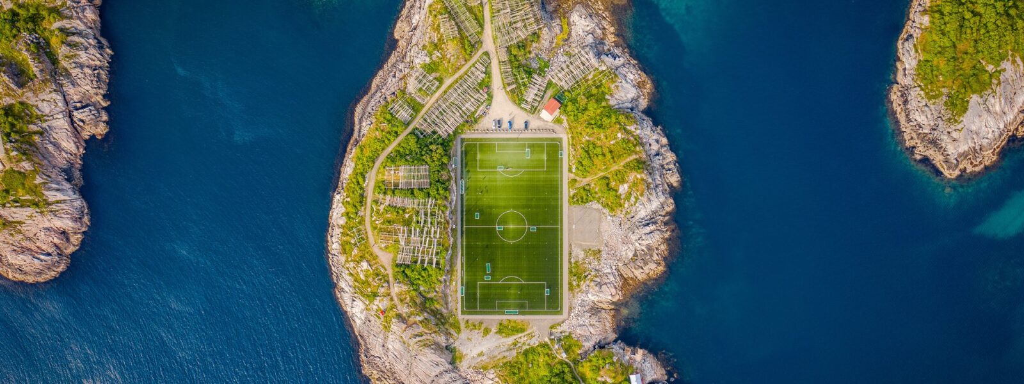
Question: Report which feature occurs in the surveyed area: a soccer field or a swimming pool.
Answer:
soccer field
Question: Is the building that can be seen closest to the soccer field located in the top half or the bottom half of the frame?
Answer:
top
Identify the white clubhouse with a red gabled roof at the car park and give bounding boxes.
[538,98,561,125]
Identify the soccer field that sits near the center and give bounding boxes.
[460,137,563,315]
